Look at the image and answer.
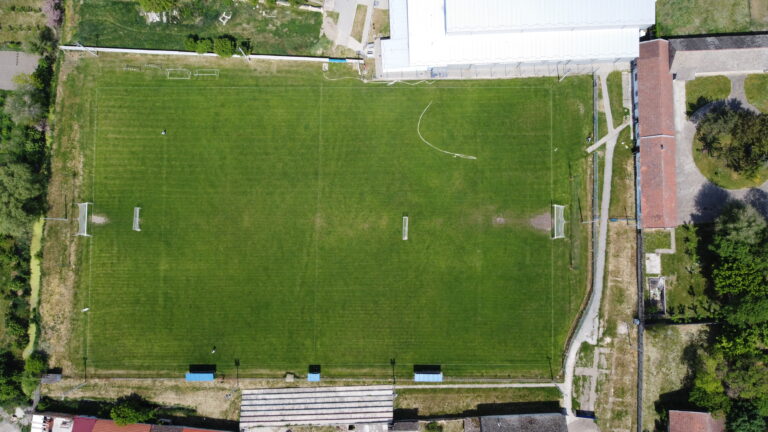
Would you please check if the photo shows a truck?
No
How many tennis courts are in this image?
none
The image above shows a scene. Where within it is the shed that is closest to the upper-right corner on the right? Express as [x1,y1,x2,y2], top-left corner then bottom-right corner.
[672,33,768,75]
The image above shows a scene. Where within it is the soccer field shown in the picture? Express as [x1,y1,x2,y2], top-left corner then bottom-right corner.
[82,82,560,372]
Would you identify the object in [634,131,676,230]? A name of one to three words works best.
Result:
building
